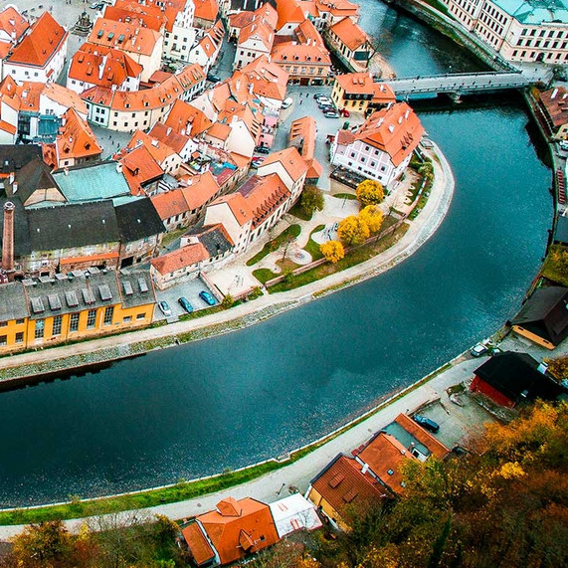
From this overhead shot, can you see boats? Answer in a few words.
No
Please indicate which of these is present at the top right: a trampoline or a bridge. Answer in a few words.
bridge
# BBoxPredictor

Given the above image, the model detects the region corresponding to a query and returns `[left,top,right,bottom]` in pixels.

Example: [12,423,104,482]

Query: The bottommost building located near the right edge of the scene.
[482,353,568,407]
